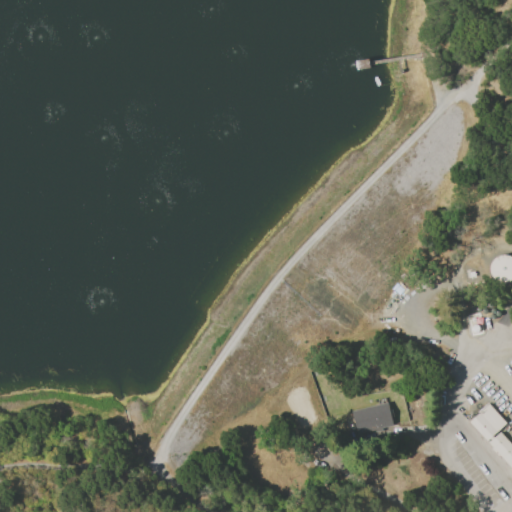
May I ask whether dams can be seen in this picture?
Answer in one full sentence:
Yes, this view includes a dam.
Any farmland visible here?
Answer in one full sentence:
No, the scene doesn't show any farmland.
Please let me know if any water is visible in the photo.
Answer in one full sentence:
Yes, there's water in this view.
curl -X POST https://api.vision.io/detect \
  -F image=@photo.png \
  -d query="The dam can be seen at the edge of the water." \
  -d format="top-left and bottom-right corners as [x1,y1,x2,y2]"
[144,99,466,466]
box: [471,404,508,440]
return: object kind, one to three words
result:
building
